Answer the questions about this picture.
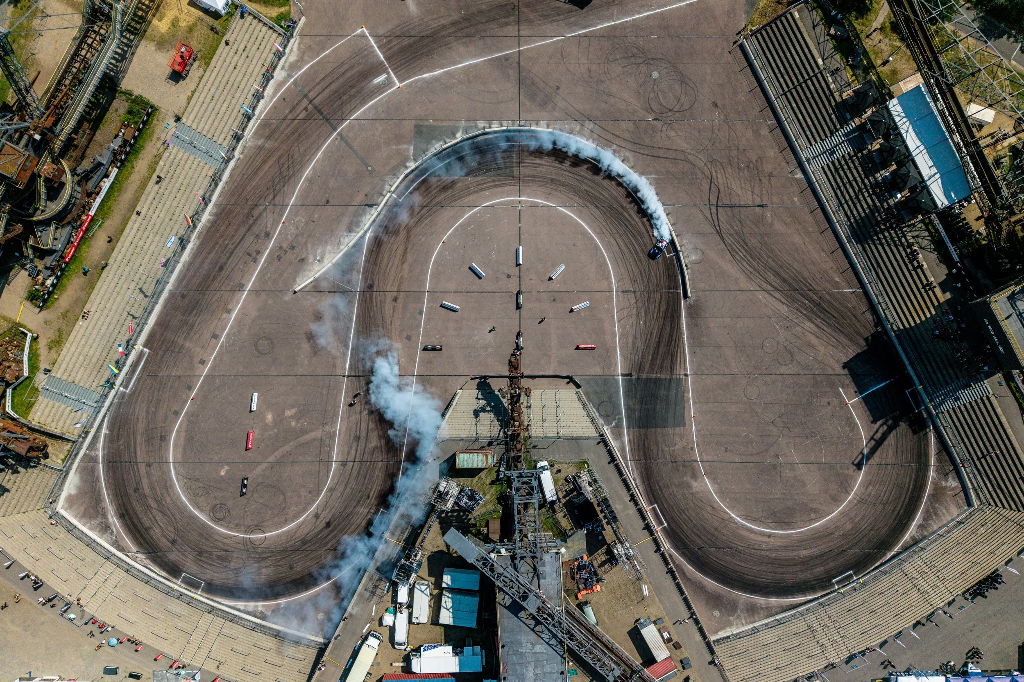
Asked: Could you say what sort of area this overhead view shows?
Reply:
sports ground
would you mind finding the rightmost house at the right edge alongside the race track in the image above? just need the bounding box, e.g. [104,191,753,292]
[940,232,1024,376]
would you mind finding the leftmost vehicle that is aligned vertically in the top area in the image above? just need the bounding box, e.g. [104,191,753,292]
[0,0,137,291]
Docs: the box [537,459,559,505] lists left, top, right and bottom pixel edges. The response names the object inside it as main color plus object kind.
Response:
white vehicle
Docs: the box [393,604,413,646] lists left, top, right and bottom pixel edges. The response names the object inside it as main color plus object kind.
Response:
white vehicle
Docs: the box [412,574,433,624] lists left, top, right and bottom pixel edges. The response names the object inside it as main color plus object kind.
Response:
white trailer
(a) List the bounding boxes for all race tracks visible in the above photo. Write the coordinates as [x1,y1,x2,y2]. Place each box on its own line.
[100,0,934,606]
